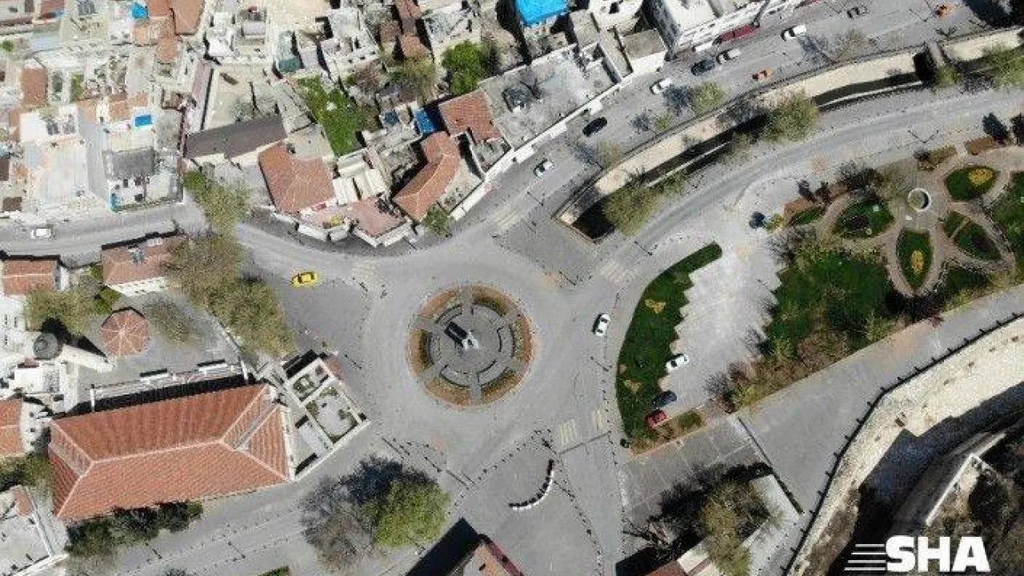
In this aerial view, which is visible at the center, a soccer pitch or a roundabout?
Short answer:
roundabout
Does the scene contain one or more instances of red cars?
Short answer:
Yes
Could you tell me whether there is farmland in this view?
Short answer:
No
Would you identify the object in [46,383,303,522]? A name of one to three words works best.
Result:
building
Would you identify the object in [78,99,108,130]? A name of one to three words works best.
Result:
house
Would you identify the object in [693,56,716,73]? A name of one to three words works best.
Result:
car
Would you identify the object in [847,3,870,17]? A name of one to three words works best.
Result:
car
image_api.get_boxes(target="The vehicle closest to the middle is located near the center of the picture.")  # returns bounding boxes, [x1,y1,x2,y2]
[596,312,609,337]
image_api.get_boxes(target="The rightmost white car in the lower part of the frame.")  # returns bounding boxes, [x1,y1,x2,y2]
[666,353,691,371]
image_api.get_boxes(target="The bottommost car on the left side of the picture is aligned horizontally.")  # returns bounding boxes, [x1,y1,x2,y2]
[292,272,316,285]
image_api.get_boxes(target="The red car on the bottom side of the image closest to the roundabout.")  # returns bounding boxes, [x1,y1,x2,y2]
[646,410,669,427]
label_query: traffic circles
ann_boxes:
[408,284,534,409]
